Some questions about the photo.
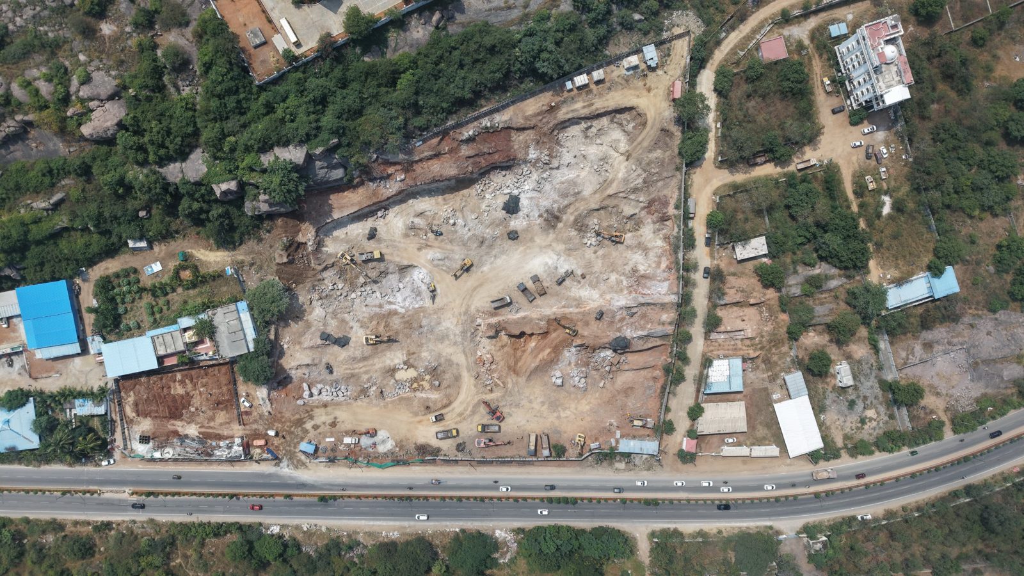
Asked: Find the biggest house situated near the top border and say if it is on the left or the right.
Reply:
right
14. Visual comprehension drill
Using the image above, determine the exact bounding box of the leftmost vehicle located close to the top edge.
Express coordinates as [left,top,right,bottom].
[279,19,300,45]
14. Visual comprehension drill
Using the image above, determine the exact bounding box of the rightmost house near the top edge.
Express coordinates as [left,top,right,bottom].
[832,14,913,115]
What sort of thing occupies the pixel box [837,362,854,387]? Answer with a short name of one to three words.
building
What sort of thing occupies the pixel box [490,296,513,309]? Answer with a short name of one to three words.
vehicle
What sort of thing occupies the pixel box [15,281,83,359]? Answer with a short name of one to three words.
shed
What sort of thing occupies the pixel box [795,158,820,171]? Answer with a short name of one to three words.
vehicle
